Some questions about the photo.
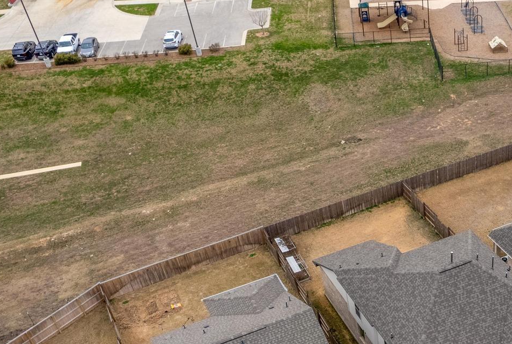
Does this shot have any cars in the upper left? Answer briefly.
Yes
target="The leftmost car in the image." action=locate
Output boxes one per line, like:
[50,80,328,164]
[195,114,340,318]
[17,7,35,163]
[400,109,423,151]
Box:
[12,40,36,57]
